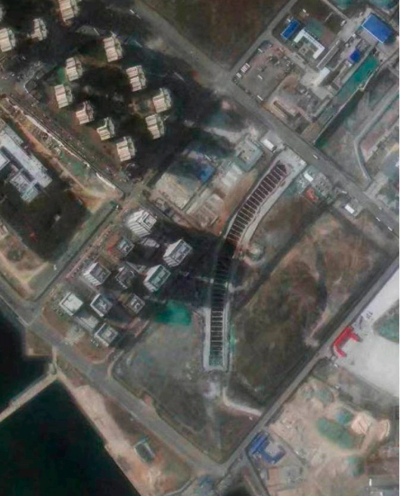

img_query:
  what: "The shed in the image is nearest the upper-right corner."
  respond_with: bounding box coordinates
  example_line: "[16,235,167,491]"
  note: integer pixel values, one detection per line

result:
[362,13,393,42]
